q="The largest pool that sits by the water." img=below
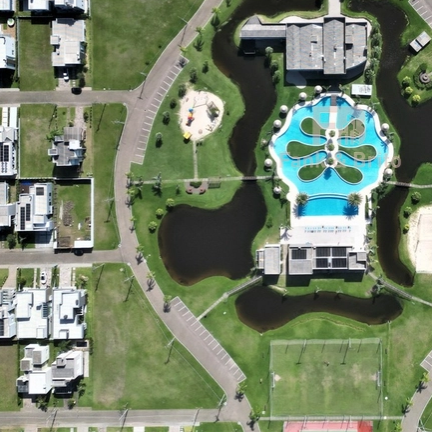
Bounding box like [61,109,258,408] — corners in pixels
[271,95,390,216]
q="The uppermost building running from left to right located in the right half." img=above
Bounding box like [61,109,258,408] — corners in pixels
[241,14,368,75]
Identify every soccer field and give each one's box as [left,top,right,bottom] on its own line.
[272,340,382,416]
